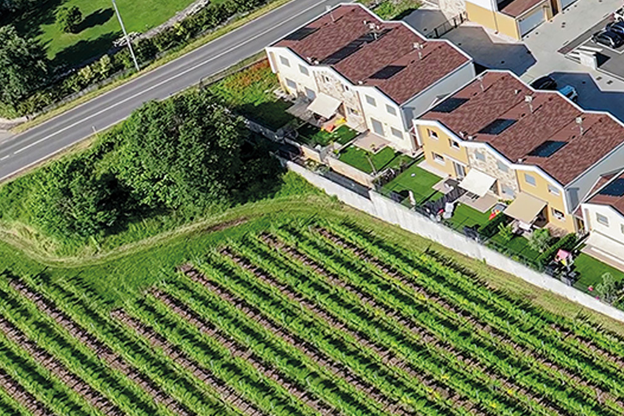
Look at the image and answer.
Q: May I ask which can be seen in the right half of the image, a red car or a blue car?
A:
blue car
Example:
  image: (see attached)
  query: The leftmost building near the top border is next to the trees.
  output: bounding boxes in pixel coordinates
[267,2,490,149]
